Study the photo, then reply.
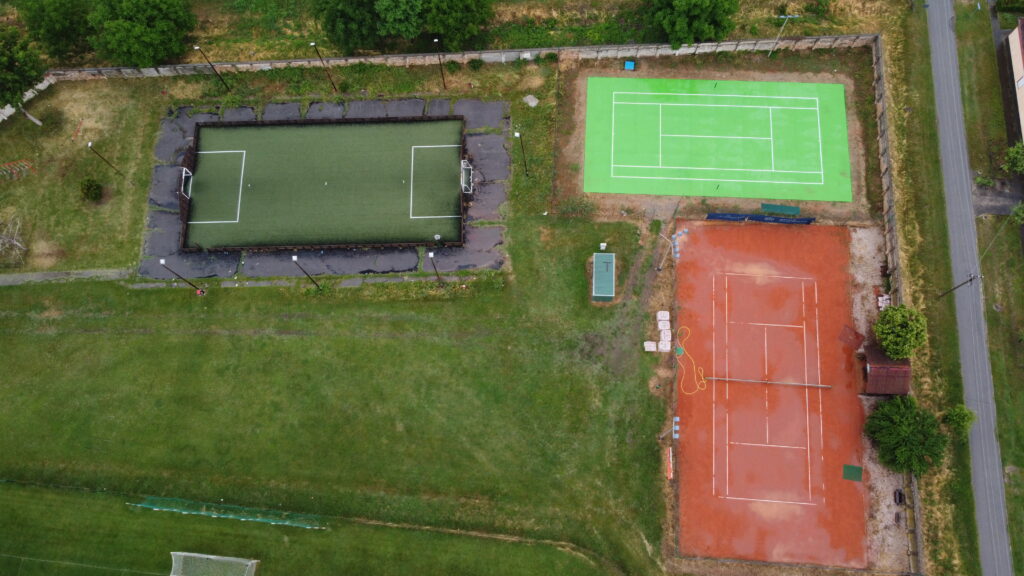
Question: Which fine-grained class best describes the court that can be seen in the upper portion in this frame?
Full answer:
I'd identify the court that can be seen in the upper portion as a tennis court.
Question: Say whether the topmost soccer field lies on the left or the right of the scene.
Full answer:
It is on the left.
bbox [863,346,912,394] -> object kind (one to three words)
shed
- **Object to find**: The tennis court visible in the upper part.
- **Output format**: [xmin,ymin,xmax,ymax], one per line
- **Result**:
[584,77,852,201]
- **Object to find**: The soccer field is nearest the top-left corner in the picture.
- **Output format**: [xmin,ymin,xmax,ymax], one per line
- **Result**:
[183,121,464,249]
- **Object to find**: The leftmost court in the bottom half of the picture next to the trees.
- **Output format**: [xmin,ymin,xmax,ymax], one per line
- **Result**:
[676,222,867,568]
